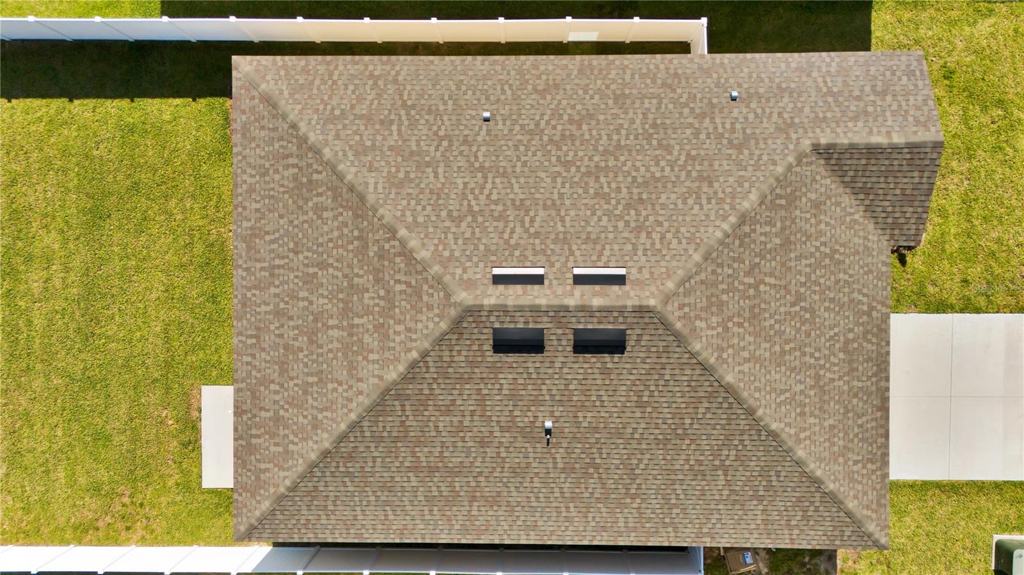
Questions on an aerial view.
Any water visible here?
No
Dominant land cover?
buildings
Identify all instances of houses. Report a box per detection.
[232,51,945,552]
